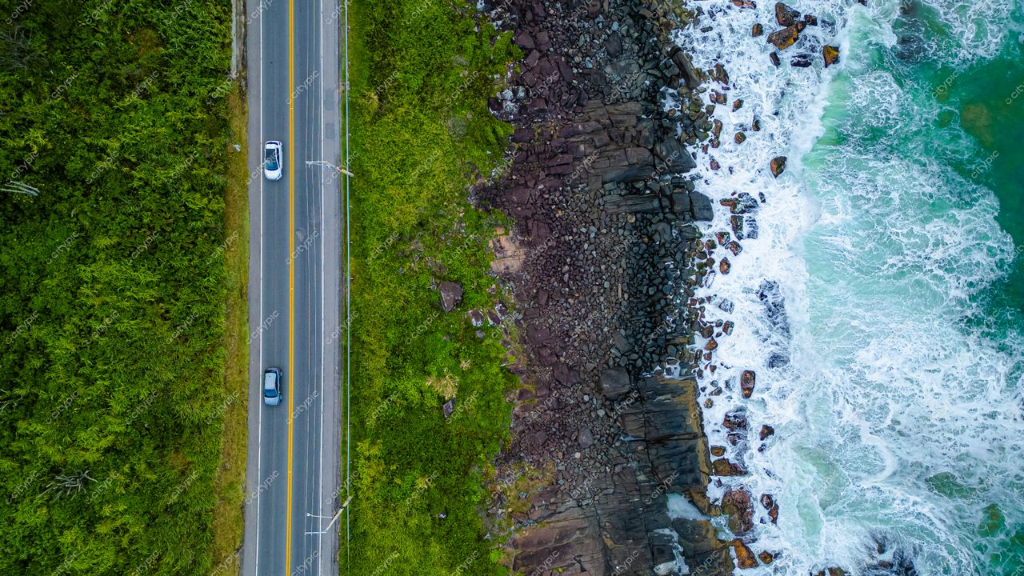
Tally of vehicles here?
2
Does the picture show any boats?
No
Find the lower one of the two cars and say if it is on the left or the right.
left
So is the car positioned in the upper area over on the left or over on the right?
left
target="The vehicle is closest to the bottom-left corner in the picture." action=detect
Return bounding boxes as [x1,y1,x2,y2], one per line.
[261,369,282,407]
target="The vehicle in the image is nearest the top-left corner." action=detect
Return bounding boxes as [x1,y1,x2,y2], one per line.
[261,141,283,181]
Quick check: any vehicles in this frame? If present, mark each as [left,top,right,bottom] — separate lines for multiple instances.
[261,369,282,407]
[261,141,283,181]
